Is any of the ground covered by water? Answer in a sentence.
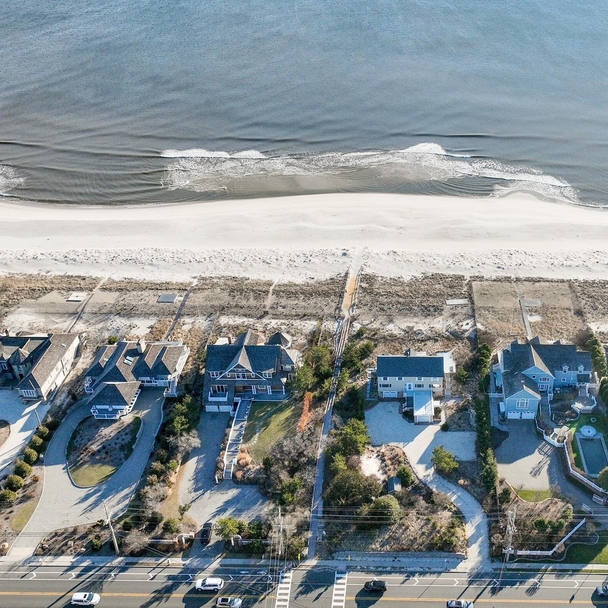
Yes, there is water in the image.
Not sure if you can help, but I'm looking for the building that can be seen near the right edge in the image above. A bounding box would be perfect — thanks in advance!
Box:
[488,332,605,418]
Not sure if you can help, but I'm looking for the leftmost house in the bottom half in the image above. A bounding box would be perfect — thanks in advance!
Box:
[0,333,77,411]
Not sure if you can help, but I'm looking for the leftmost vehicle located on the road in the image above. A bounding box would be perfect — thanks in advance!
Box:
[69,591,101,607]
